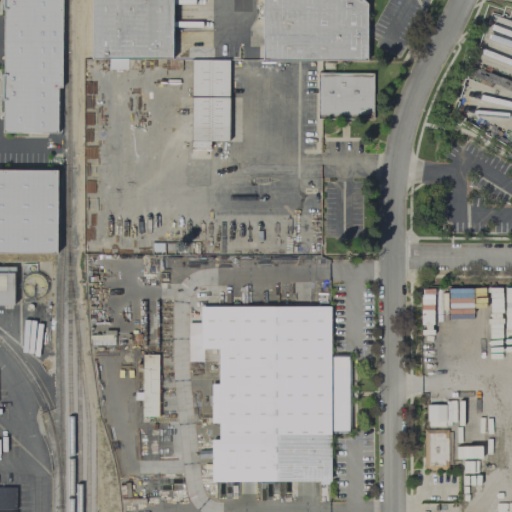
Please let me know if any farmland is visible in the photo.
No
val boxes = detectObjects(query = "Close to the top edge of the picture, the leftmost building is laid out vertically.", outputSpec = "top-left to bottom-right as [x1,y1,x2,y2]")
[3,0,64,133]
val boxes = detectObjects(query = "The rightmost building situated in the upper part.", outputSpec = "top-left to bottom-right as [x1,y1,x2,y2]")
[320,73,376,119]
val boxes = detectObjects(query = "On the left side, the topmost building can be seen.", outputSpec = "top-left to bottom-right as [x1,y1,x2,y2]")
[93,0,175,59]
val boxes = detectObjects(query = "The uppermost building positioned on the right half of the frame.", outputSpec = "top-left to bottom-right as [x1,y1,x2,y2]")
[265,0,370,61]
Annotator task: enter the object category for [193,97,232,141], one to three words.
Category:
shed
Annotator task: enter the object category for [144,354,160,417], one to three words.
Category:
building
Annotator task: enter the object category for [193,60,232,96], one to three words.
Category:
shed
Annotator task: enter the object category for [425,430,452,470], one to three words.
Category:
building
